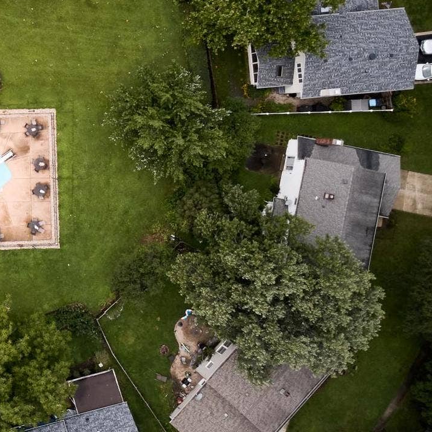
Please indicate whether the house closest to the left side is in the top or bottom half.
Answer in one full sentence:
Seen from above, the house closest to the left side lies in the bottom half of the view.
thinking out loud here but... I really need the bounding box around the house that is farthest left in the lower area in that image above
[33,365,139,432]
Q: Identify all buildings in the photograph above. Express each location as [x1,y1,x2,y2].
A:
[164,337,330,432]
[263,135,401,269]
[33,365,139,432]
[244,0,419,100]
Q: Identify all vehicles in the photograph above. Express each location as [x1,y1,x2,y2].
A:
[415,63,432,82]
[418,39,432,56]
